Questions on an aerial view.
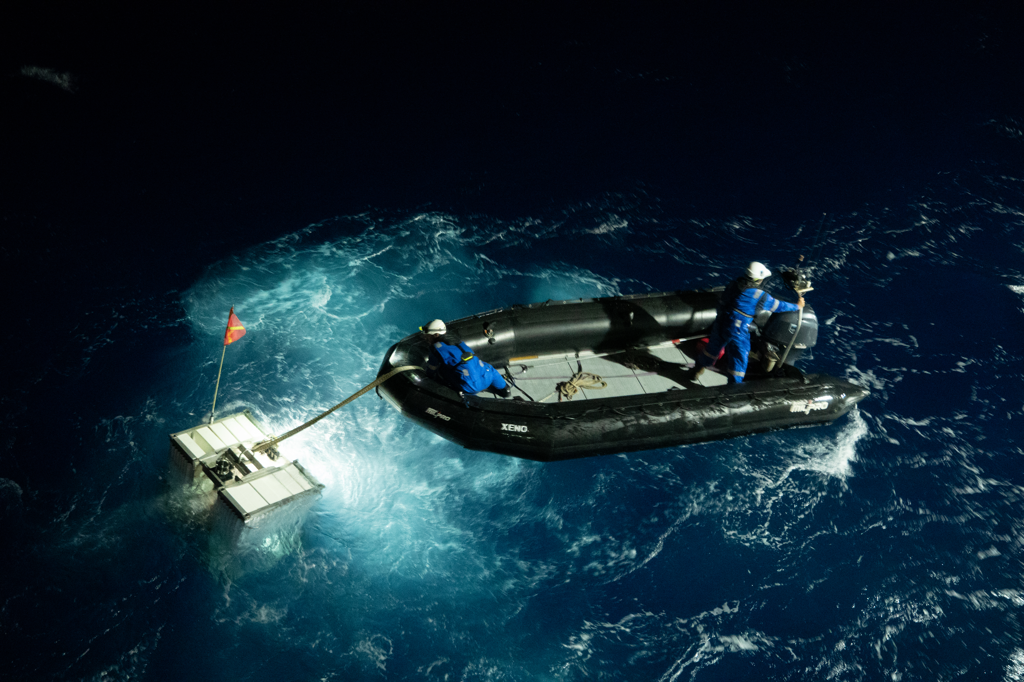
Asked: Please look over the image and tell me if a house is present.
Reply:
No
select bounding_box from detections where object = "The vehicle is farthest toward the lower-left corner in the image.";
[167,308,326,558]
